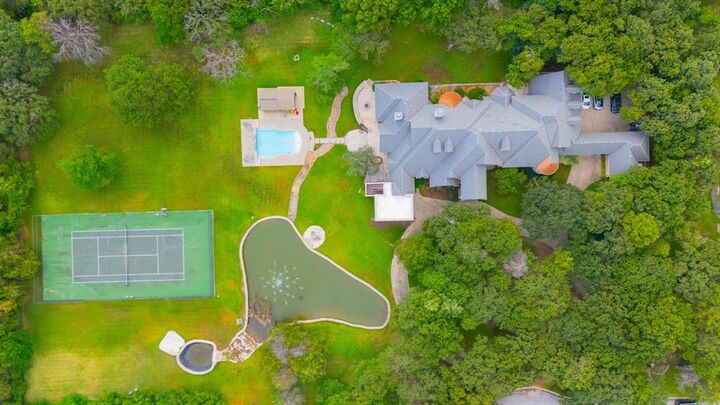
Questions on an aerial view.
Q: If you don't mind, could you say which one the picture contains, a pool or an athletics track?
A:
pool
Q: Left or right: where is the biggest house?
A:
right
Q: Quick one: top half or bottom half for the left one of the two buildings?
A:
top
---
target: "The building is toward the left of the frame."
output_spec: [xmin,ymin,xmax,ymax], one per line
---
[259,89,295,110]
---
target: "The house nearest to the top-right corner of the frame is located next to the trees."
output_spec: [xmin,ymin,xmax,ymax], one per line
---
[366,71,650,221]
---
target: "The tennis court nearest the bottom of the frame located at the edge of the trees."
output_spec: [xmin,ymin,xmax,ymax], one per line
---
[42,210,210,301]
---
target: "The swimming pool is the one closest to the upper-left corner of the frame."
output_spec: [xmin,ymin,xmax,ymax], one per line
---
[240,85,315,167]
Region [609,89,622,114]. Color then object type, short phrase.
black vehicle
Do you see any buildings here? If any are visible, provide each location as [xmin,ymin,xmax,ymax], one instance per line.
[259,89,295,110]
[366,71,650,221]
